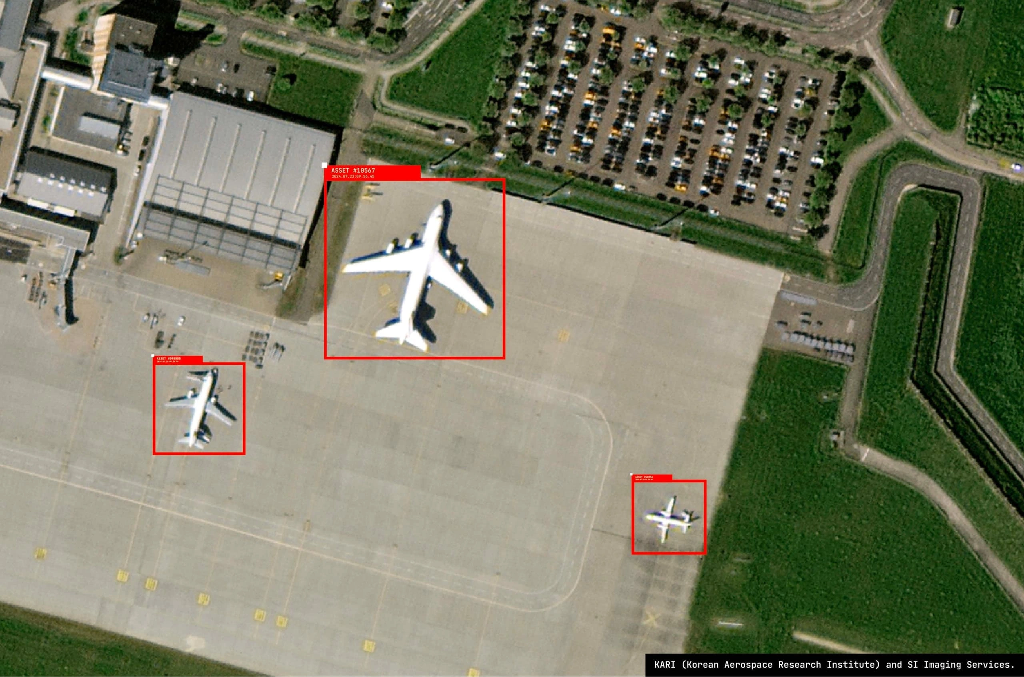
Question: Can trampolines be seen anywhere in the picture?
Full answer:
No, this view has no trampoline in it.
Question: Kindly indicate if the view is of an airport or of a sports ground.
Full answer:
This image shows an airport.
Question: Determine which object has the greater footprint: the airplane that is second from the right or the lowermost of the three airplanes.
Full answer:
It is the airplane that is second from the right that is larger, not the lowermost of the three airplanes.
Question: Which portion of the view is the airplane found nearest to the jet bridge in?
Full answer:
The airplane found nearest to the jet bridge is in the left part of the image.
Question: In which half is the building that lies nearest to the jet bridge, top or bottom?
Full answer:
It is in the top half that the building that lies nearest to the jet bridge appears.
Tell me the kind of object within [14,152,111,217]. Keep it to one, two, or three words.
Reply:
building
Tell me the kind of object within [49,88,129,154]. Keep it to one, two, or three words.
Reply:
building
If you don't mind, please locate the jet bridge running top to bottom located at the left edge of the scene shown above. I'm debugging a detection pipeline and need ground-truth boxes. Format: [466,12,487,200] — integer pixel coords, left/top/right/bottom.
[50,247,76,333]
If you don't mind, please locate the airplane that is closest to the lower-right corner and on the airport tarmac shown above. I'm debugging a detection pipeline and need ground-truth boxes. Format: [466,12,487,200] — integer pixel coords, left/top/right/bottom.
[646,497,691,544]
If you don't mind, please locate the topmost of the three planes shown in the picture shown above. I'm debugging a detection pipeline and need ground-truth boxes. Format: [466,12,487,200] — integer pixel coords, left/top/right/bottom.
[346,204,488,354]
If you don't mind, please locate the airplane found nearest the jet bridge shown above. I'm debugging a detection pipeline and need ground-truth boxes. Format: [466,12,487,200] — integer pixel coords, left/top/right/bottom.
[165,371,233,449]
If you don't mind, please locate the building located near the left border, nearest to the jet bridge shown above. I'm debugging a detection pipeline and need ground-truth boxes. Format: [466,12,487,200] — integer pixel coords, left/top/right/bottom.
[0,209,89,251]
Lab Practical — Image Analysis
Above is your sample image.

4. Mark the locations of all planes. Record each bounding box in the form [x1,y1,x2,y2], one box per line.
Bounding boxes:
[165,371,233,449]
[346,204,488,354]
[646,497,691,544]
